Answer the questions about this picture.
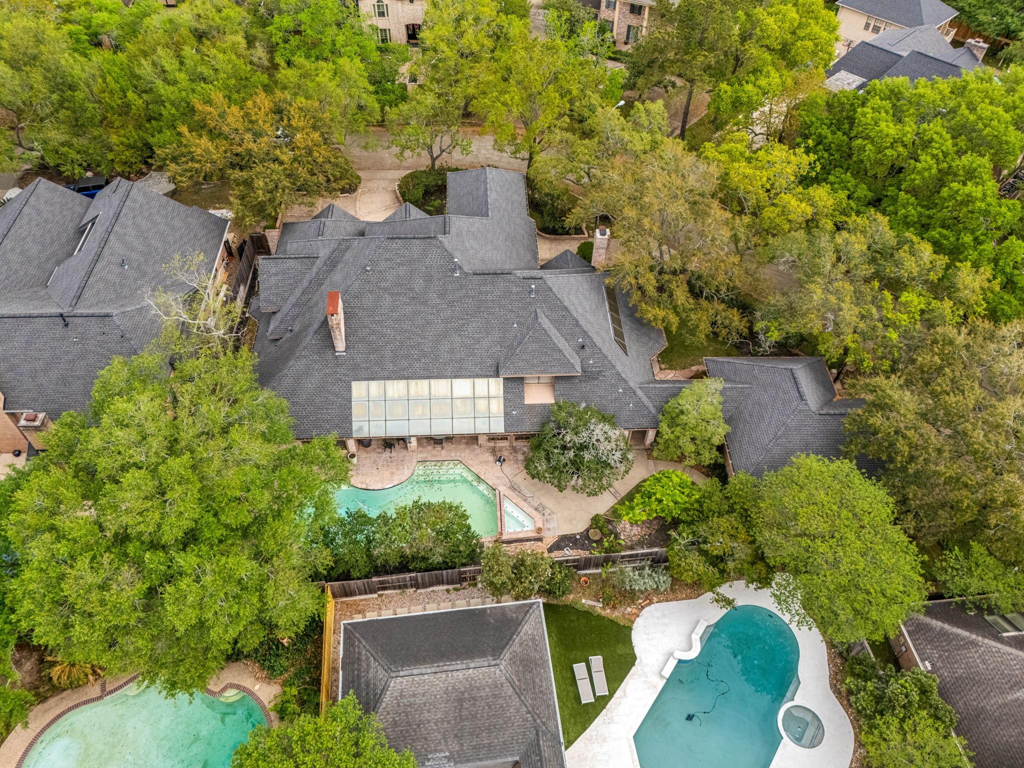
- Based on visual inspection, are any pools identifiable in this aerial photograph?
Yes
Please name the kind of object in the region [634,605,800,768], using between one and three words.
swimming pool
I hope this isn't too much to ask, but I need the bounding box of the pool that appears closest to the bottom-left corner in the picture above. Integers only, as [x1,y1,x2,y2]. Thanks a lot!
[10,664,272,768]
